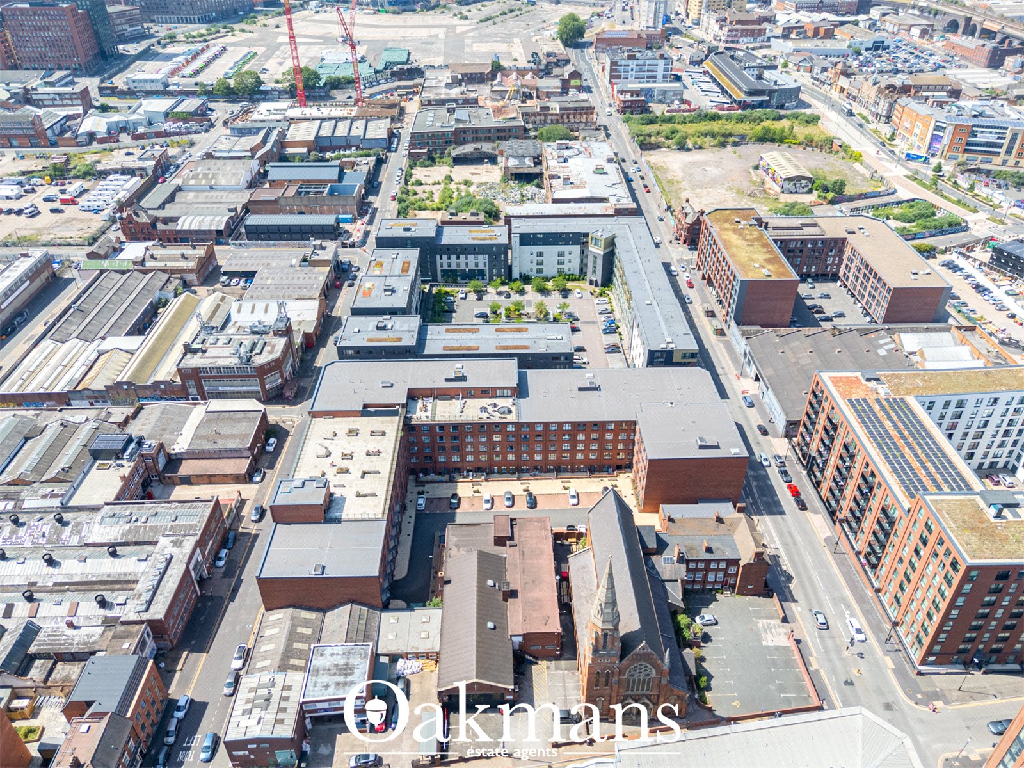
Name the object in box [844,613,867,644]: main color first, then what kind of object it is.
white vehicle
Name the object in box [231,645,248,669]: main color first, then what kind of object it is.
white car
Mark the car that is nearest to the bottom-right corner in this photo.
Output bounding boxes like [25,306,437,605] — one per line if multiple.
[986,720,1013,735]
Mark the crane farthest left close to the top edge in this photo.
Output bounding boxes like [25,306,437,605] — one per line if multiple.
[283,0,309,107]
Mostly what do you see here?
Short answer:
buildings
